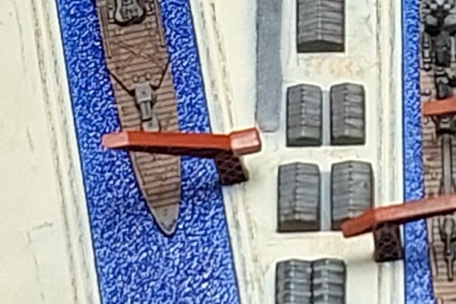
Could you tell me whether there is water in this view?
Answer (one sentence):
Yes, water can be seen from above here.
